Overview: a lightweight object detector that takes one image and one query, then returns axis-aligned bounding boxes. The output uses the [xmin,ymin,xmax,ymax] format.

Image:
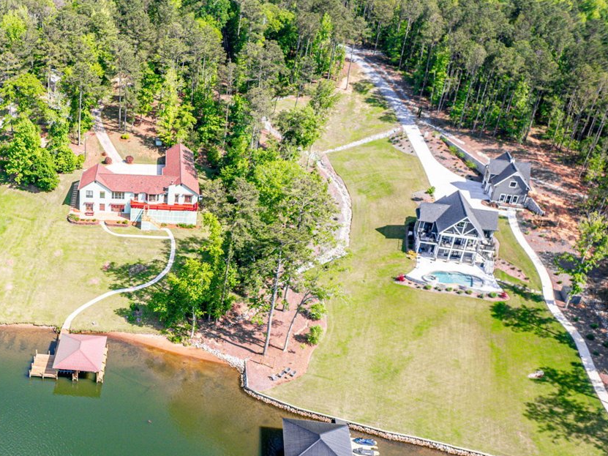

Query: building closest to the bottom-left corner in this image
[31,333,111,393]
